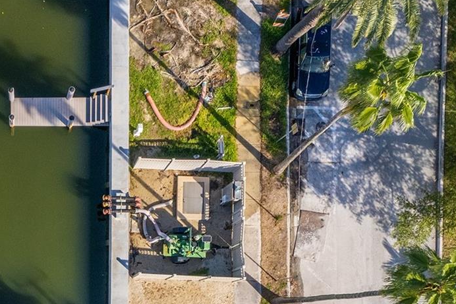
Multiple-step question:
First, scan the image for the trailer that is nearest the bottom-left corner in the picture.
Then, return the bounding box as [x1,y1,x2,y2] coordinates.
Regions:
[164,226,236,264]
